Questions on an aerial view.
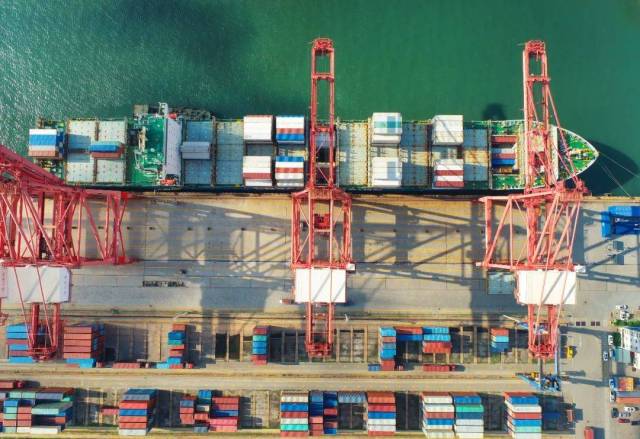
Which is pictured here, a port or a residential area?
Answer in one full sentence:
This looks like a port.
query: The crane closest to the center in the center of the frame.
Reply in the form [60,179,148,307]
[282,36,359,361]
